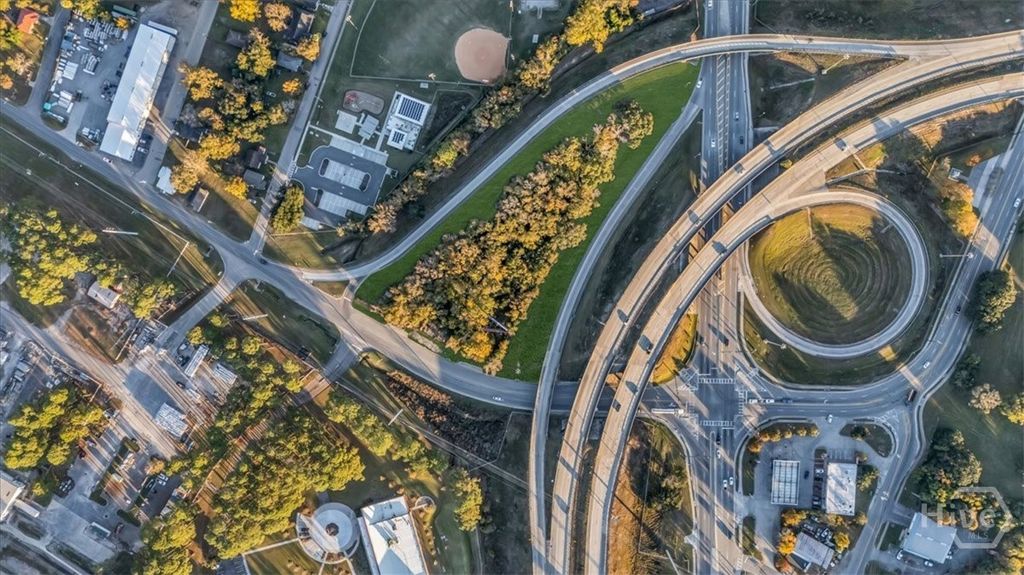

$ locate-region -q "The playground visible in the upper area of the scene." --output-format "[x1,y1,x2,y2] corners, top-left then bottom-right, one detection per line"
[344,90,384,113]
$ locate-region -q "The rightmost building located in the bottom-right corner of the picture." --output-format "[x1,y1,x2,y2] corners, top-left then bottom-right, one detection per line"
[899,511,957,564]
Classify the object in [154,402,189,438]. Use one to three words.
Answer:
shed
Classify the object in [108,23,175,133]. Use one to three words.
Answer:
building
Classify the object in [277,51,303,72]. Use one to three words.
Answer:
house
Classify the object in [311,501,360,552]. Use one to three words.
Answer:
building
